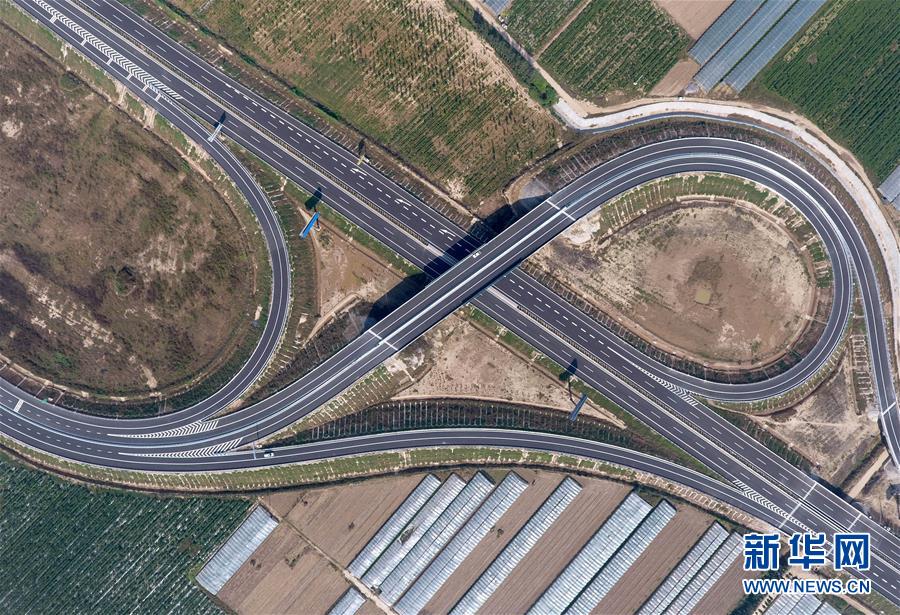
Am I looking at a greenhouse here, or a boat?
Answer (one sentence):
Looking from above, you can make out a greenhouse.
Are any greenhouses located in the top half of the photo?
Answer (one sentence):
Yes, I can see a greenhouse in the top half of the photo.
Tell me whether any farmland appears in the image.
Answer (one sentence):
Yes, there's farmland in this view.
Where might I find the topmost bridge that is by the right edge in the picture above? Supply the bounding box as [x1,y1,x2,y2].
[878,402,900,483]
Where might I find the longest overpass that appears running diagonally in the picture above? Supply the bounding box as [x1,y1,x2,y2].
[363,194,577,364]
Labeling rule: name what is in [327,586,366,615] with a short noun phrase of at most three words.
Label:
greenhouse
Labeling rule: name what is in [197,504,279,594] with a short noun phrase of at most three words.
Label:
greenhouse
